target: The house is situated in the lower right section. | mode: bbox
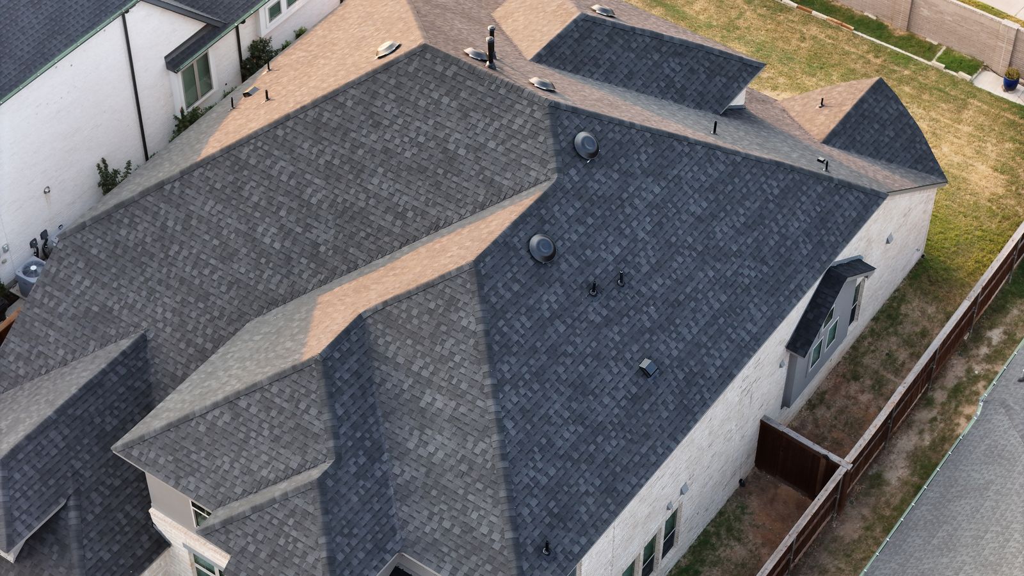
[857,337,1024,576]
